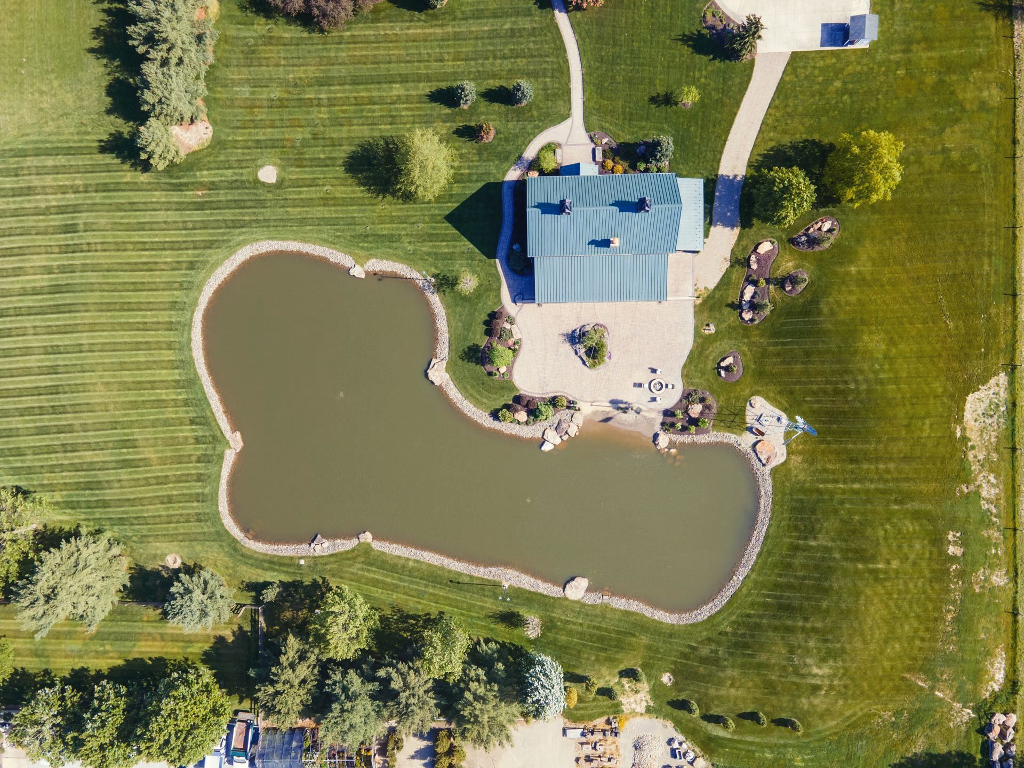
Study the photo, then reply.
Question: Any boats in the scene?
No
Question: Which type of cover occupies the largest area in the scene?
grass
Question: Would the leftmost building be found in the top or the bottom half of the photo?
bottom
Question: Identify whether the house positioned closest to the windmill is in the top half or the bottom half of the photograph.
top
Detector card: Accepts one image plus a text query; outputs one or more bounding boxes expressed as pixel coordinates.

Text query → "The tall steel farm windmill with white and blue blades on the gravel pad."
[753,407,820,447]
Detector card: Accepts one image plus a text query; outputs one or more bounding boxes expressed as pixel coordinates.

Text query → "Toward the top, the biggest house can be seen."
[526,162,704,305]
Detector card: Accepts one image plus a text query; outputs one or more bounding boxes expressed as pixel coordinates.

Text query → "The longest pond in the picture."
[209,258,753,605]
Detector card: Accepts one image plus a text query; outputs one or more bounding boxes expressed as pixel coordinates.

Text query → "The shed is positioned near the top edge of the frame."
[846,11,880,46]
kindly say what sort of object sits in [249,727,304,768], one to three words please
building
